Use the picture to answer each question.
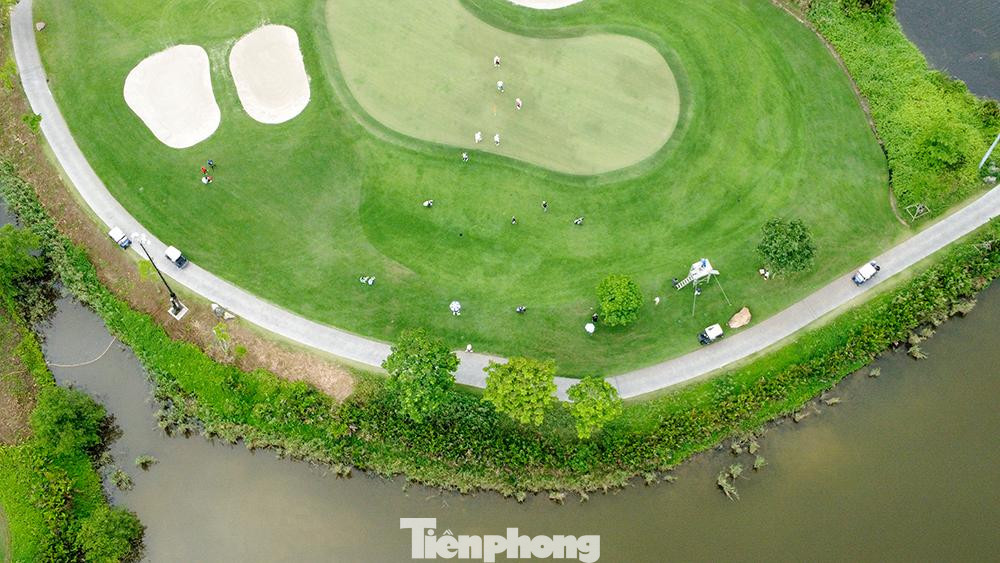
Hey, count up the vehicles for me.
4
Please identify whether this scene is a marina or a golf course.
golf course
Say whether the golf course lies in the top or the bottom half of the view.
top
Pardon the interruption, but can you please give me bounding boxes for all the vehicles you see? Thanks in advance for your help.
[108,228,135,257]
[694,322,724,350]
[852,261,881,288]
[166,247,192,276]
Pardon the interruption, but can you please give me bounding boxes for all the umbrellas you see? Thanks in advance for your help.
[447,302,459,312]
[583,322,596,333]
